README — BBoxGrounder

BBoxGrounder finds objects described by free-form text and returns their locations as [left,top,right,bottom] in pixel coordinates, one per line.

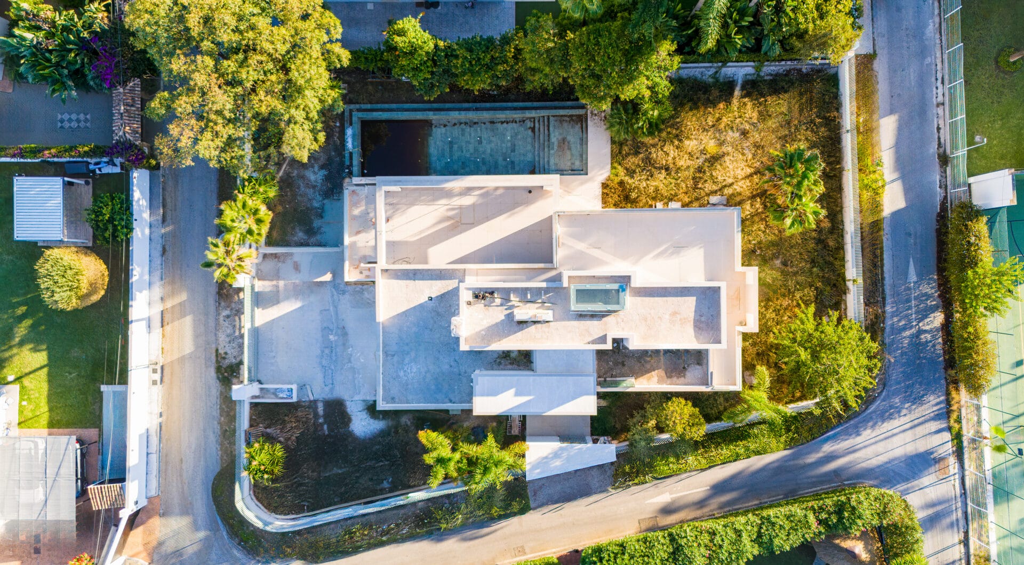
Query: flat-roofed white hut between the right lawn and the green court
[944,169,1024,211]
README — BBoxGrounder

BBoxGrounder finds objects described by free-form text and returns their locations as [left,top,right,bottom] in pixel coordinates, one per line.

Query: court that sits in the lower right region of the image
[988,262,1024,565]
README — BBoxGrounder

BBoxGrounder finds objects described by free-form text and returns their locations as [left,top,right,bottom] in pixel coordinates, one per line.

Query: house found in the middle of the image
[344,176,758,415]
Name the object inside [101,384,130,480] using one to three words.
shed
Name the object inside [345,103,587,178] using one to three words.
swimming pool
